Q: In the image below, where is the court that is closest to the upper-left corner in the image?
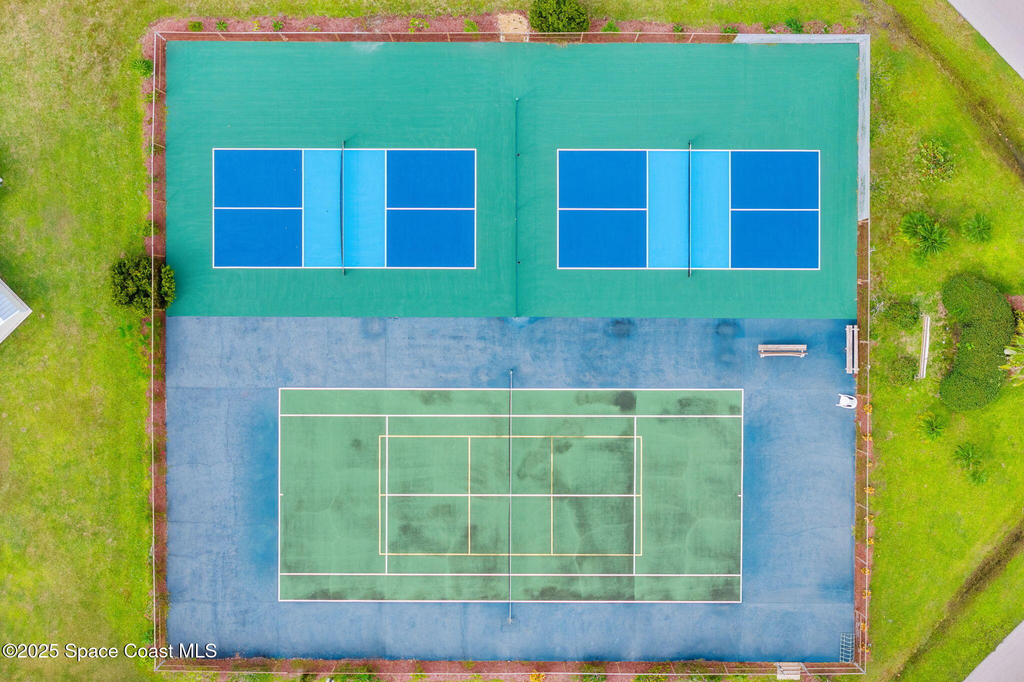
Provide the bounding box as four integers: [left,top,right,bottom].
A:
[212,148,476,269]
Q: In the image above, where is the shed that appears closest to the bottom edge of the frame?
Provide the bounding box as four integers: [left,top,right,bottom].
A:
[0,277,34,346]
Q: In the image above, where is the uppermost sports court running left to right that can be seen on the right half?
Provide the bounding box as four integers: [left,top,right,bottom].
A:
[557,148,821,270]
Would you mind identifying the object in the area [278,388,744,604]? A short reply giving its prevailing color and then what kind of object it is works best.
green tennis court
